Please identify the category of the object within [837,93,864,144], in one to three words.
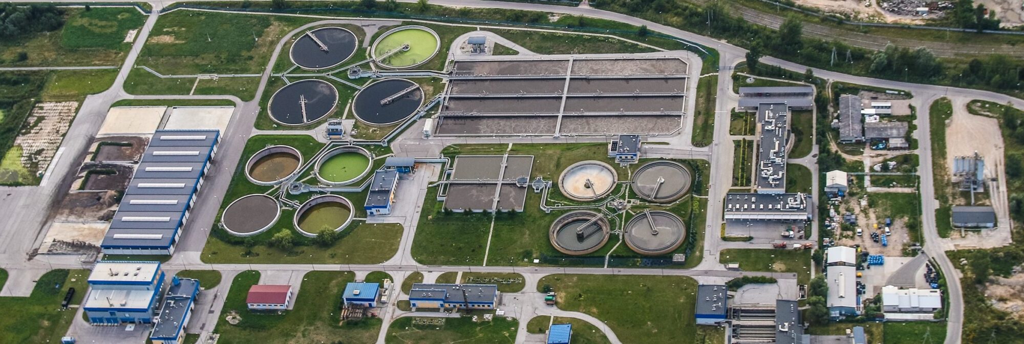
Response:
barn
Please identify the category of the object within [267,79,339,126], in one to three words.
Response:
storage tank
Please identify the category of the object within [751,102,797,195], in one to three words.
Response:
building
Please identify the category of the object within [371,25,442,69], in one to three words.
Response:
storage tank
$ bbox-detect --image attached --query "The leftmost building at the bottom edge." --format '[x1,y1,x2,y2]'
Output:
[82,261,171,335]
